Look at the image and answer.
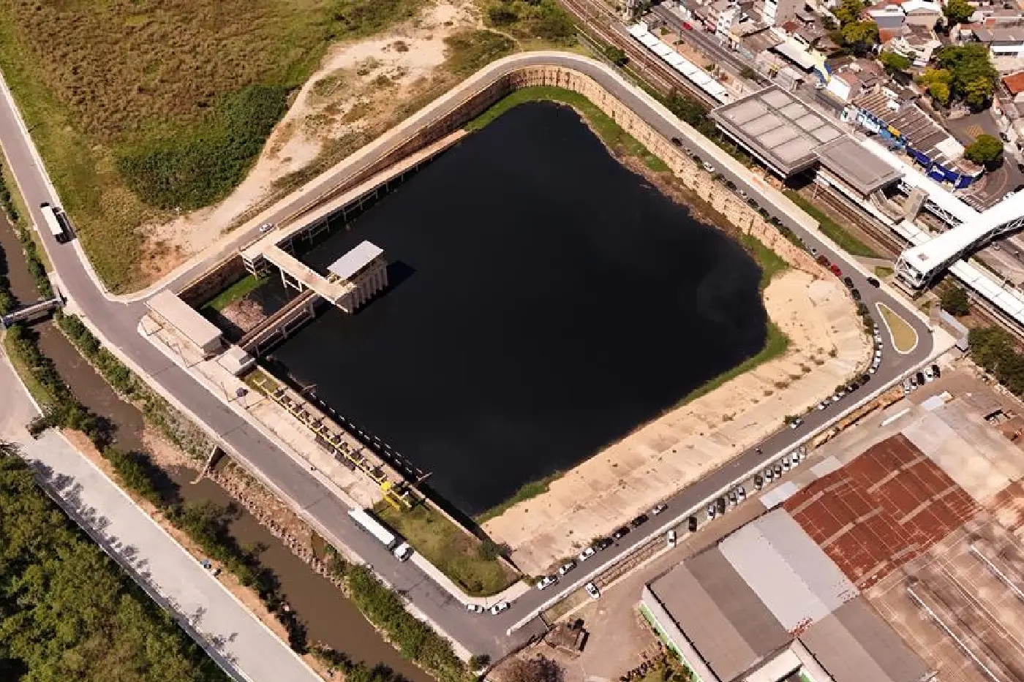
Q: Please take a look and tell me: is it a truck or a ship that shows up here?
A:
truck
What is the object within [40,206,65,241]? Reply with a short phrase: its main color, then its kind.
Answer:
white truck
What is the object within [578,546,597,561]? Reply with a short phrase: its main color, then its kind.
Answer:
white car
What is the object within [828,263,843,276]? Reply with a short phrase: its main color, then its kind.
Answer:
red vehicle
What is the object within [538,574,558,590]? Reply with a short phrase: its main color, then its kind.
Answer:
white car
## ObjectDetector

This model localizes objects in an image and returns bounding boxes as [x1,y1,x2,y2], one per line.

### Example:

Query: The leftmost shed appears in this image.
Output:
[144,289,222,358]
